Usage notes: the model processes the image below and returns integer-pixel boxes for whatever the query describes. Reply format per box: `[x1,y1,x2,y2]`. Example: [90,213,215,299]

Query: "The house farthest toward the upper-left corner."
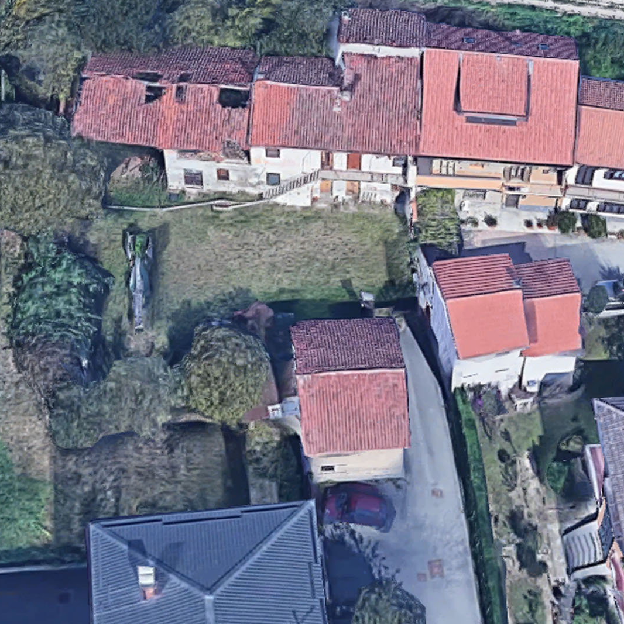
[74,46,259,194]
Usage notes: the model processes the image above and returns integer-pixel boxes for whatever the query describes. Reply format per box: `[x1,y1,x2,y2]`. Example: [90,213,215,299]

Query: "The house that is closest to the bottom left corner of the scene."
[87,499,335,624]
